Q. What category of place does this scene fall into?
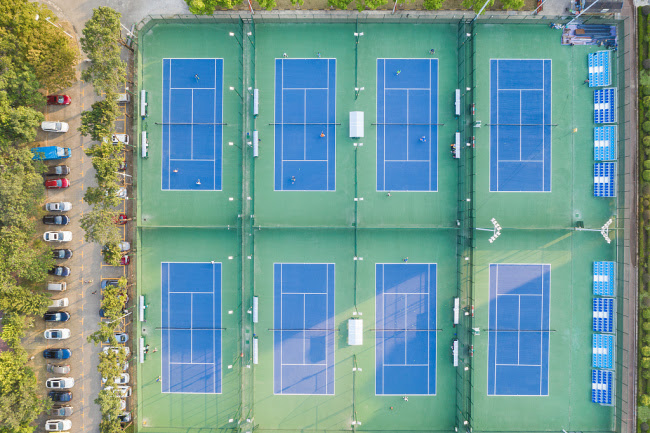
sports ground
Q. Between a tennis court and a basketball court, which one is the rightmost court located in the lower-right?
tennis court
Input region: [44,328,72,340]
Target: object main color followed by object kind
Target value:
white vehicle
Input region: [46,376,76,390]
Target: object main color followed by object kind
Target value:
white vehicle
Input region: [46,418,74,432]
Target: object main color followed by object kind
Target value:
white car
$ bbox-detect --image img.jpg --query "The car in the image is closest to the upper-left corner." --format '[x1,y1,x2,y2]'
[46,94,74,106]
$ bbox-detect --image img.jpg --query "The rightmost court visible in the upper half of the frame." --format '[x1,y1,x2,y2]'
[474,23,616,228]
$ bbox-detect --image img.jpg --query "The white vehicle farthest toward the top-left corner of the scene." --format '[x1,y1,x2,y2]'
[41,119,71,133]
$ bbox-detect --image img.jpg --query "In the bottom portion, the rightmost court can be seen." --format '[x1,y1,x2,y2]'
[474,228,616,427]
